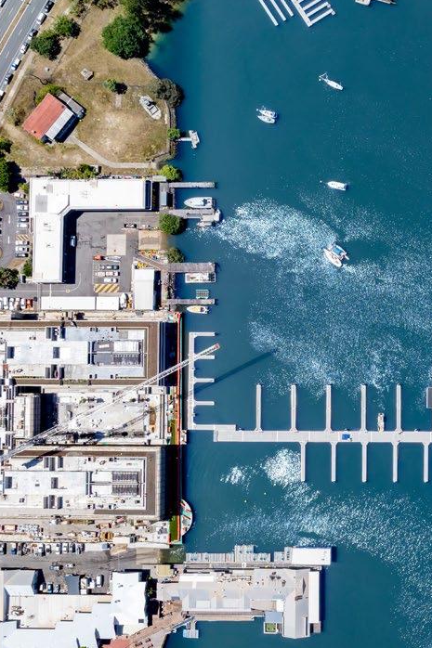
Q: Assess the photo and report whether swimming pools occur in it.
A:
No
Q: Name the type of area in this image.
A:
port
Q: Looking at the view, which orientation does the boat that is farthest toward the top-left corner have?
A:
at an angle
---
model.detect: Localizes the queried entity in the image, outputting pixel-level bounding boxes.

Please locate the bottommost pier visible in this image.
[158,563,321,638]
